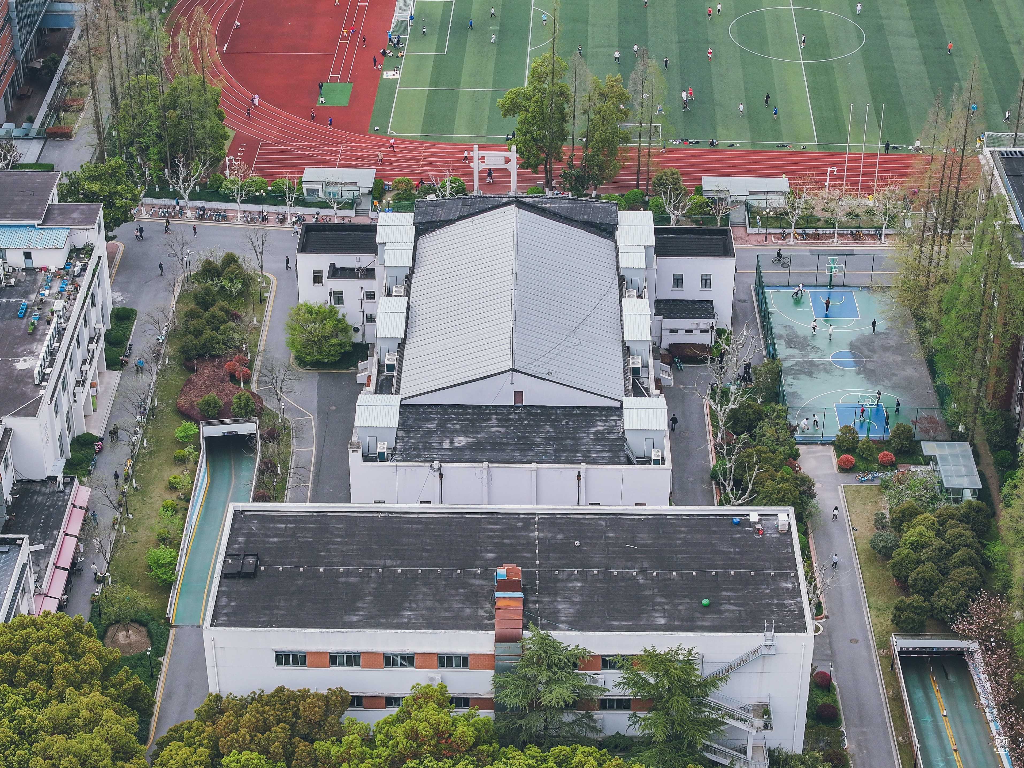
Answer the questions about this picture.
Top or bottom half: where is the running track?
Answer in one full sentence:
You can find the running track in the top half.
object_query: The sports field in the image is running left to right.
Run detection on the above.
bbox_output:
[127,0,995,228]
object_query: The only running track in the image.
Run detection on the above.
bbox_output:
[152,0,984,196]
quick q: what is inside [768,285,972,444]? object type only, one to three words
sports court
